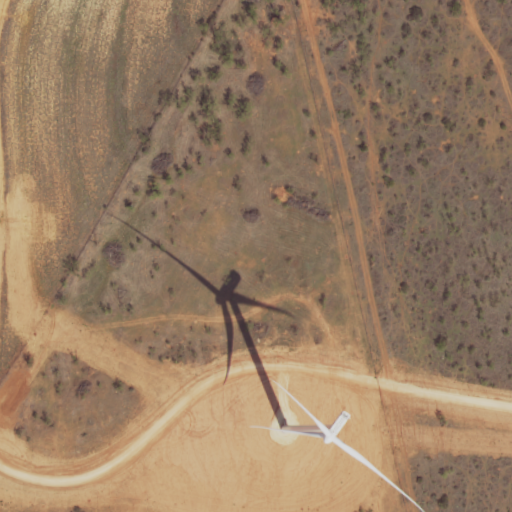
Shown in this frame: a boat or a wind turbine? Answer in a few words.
wind turbine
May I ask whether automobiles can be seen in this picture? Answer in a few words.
No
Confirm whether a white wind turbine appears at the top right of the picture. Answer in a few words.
No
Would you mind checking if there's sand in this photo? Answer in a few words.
Yes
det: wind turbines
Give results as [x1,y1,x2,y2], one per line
[254,386,429,511]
